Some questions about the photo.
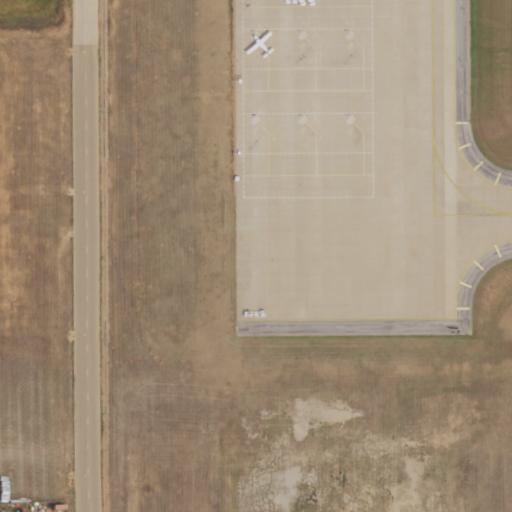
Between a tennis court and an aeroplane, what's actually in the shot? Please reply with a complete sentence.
The one in the frame is an aeroplane.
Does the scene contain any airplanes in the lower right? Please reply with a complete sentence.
No, the scene shows no airplane in the lower right.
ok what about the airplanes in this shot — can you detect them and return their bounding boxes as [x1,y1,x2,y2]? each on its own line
[246,30,274,58]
